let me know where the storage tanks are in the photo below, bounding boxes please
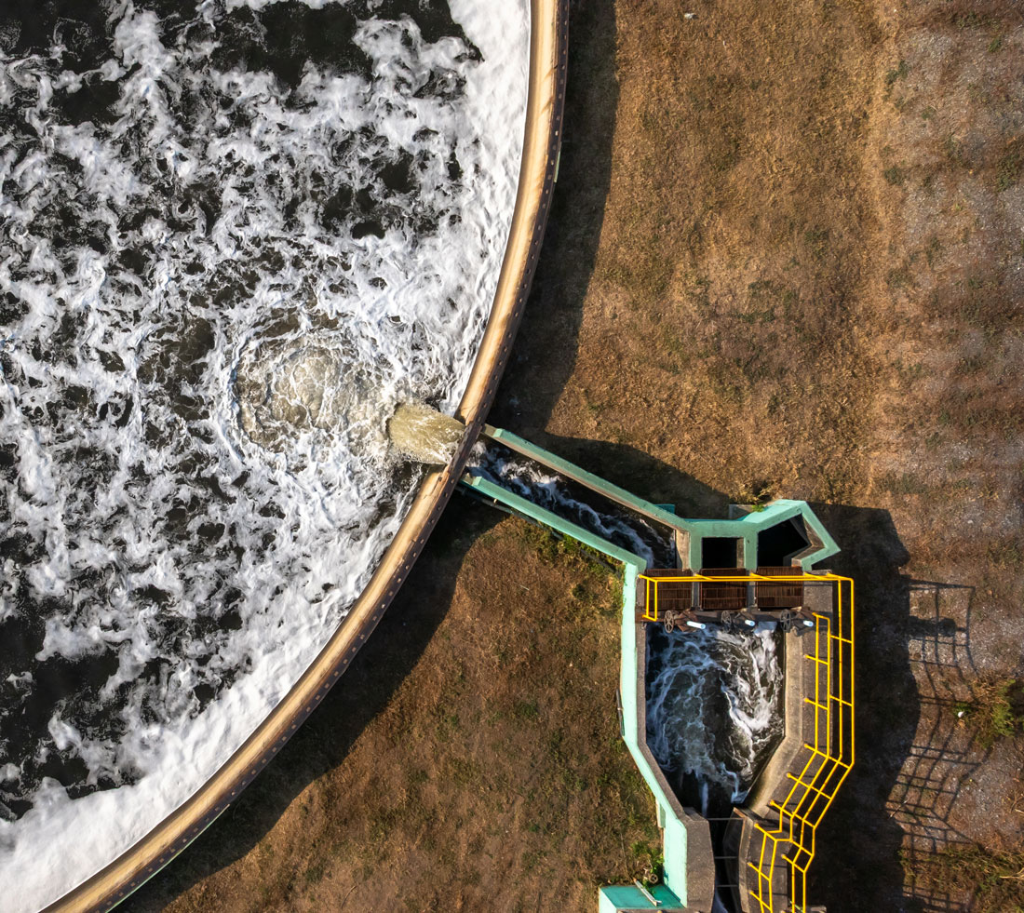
[34,0,571,913]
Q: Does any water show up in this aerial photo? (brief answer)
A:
Yes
